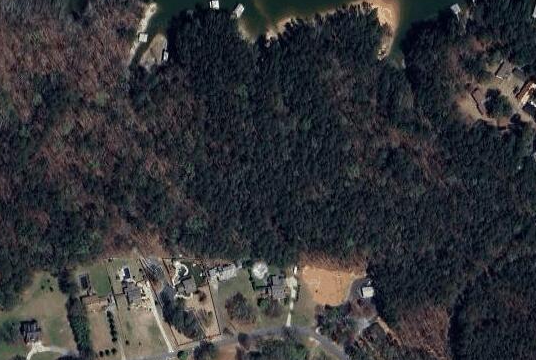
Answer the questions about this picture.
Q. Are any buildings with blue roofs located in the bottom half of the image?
No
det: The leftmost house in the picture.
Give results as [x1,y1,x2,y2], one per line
[22,320,39,341]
